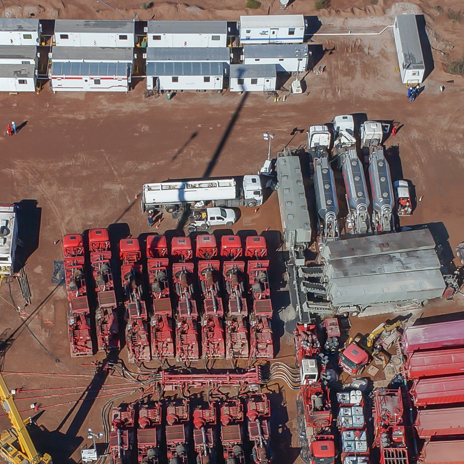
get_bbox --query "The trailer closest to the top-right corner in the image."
[393,13,425,89]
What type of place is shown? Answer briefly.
industrial area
